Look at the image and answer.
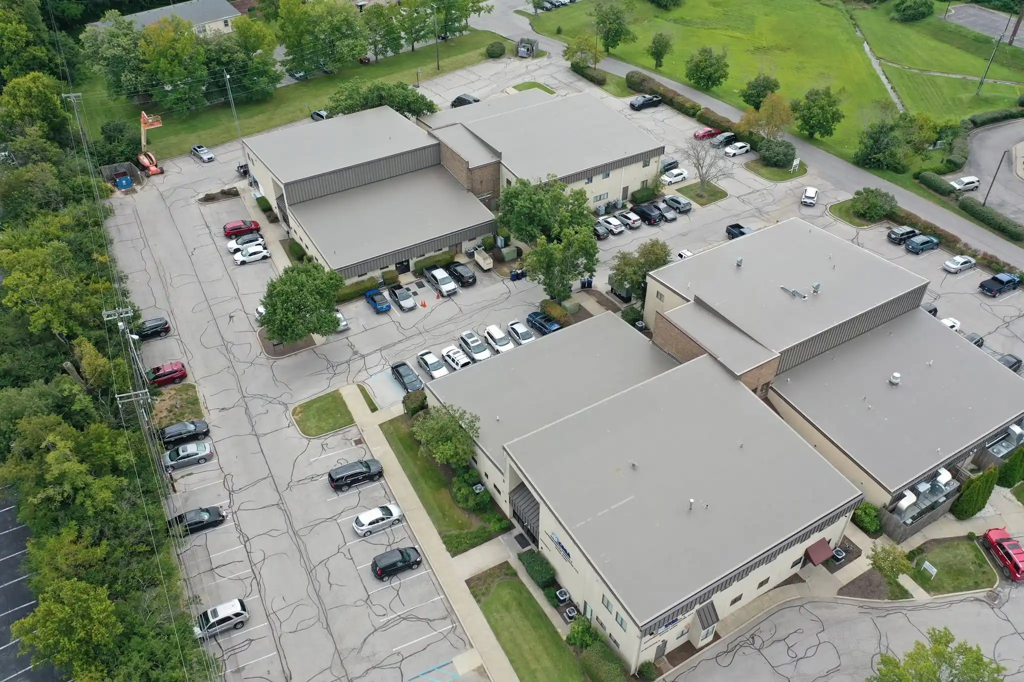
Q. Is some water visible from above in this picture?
No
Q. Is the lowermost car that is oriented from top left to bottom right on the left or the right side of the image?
right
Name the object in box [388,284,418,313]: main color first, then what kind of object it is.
gray car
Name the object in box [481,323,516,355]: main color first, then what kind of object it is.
white car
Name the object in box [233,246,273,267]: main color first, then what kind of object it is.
white car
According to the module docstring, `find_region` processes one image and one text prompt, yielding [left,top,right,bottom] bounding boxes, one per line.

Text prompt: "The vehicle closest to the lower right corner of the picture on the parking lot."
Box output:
[985,530,1024,586]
